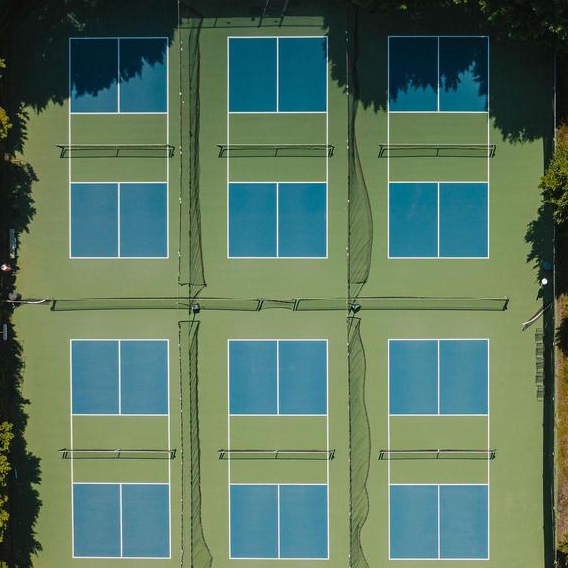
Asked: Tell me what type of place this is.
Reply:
sports ground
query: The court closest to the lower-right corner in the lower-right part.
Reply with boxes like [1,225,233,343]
[388,339,490,560]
